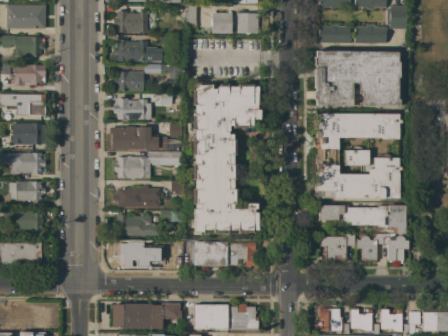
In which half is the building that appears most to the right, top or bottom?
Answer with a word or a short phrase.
bottom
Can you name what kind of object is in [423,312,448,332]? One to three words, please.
building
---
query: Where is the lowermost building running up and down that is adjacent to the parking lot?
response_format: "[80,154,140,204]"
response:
[195,84,260,231]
